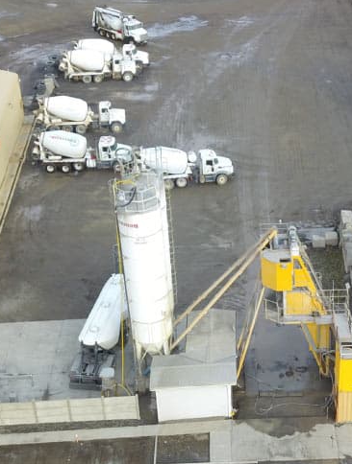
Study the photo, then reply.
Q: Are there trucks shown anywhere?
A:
Yes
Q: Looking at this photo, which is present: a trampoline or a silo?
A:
silo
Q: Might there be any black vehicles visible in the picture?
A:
No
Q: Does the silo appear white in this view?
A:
Yes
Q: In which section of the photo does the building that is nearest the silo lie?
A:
bottom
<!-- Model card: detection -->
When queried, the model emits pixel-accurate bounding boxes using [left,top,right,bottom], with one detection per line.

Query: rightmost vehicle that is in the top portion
[136,137,235,182]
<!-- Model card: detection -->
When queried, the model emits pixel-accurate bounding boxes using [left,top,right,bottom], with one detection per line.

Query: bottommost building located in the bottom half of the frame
[149,312,238,422]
